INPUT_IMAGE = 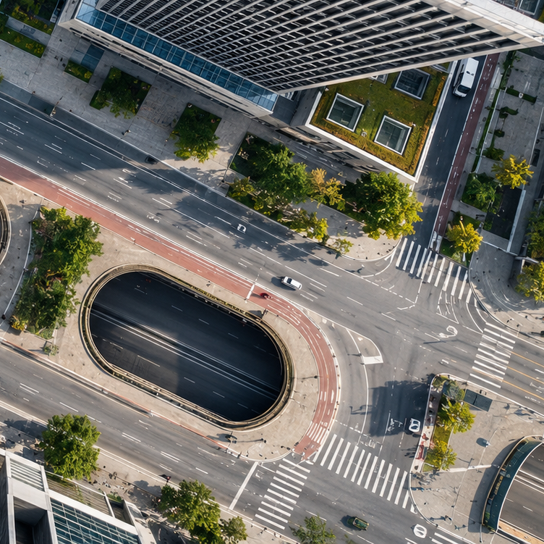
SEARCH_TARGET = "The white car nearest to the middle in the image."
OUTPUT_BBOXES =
[281,275,301,290]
